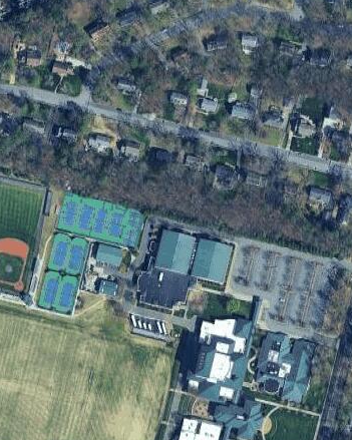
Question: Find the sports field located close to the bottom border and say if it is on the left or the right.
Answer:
left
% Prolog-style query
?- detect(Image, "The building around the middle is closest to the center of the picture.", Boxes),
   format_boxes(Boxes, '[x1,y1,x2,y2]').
[155,230,196,275]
